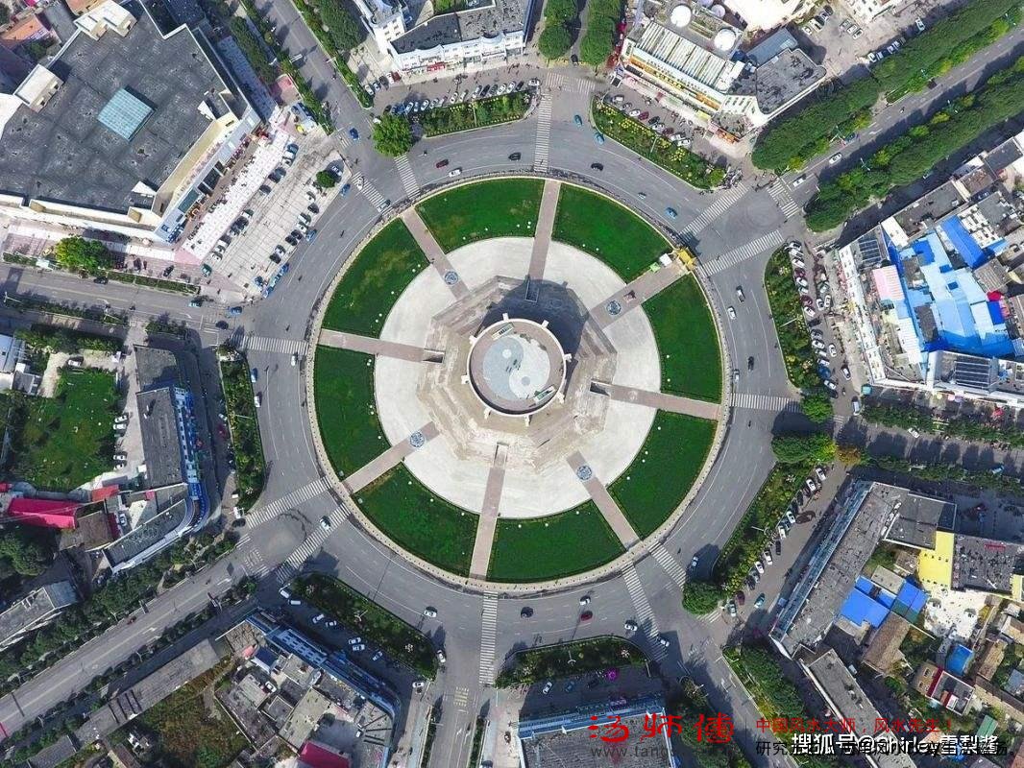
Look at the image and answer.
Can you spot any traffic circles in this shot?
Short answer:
Yes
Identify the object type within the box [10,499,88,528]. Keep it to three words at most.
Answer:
building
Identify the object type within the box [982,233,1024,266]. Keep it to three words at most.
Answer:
shed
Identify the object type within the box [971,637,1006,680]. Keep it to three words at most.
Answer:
house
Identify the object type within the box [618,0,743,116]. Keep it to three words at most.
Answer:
building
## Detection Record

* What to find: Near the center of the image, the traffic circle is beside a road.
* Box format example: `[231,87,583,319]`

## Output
[219,97,815,677]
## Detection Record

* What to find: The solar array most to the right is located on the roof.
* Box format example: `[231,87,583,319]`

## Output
[953,356,989,382]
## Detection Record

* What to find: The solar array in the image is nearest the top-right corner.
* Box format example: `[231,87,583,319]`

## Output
[859,239,881,265]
